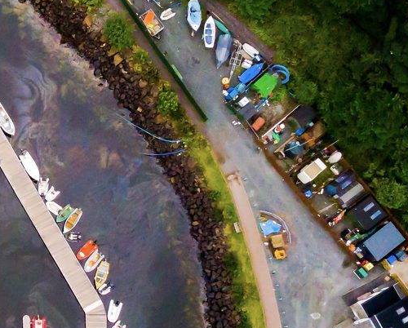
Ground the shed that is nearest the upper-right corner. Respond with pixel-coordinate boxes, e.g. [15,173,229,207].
[285,107,317,130]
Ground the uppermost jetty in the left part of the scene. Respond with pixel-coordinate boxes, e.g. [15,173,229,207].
[0,126,105,314]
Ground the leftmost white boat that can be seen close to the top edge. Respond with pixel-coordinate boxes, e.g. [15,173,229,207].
[160,7,177,20]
